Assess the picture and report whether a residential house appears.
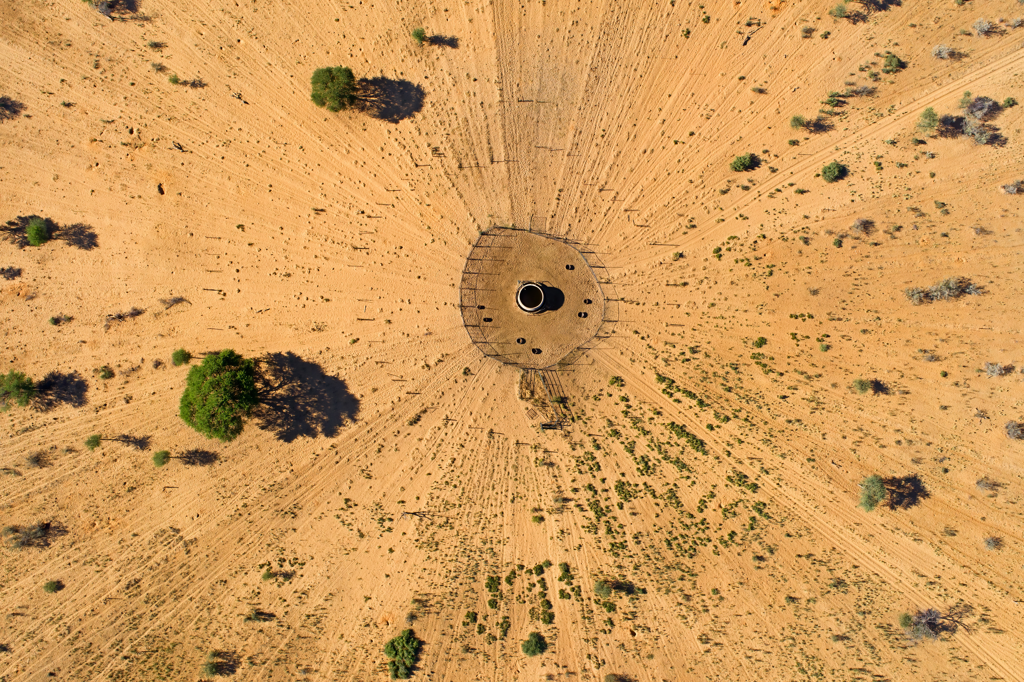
No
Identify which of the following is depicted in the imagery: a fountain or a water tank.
water tank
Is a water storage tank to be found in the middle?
Yes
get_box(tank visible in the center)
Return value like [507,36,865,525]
[515,278,547,313]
